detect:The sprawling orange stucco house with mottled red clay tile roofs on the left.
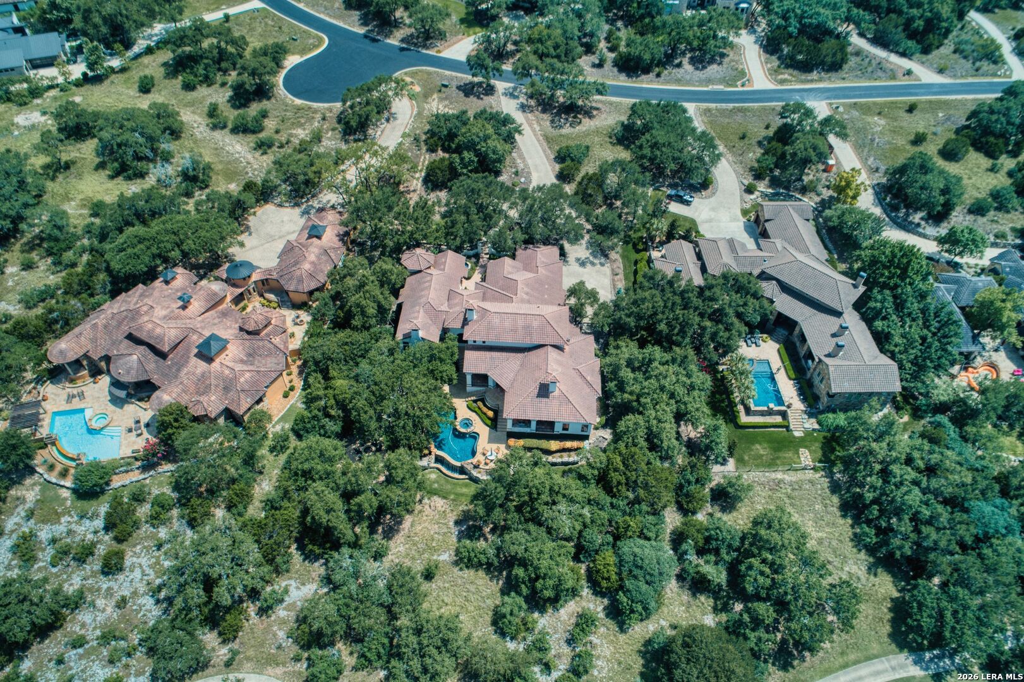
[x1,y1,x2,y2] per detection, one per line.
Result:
[47,207,350,421]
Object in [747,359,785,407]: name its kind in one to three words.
swimming pool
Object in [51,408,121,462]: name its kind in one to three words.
swimming pool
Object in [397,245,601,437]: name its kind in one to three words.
house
